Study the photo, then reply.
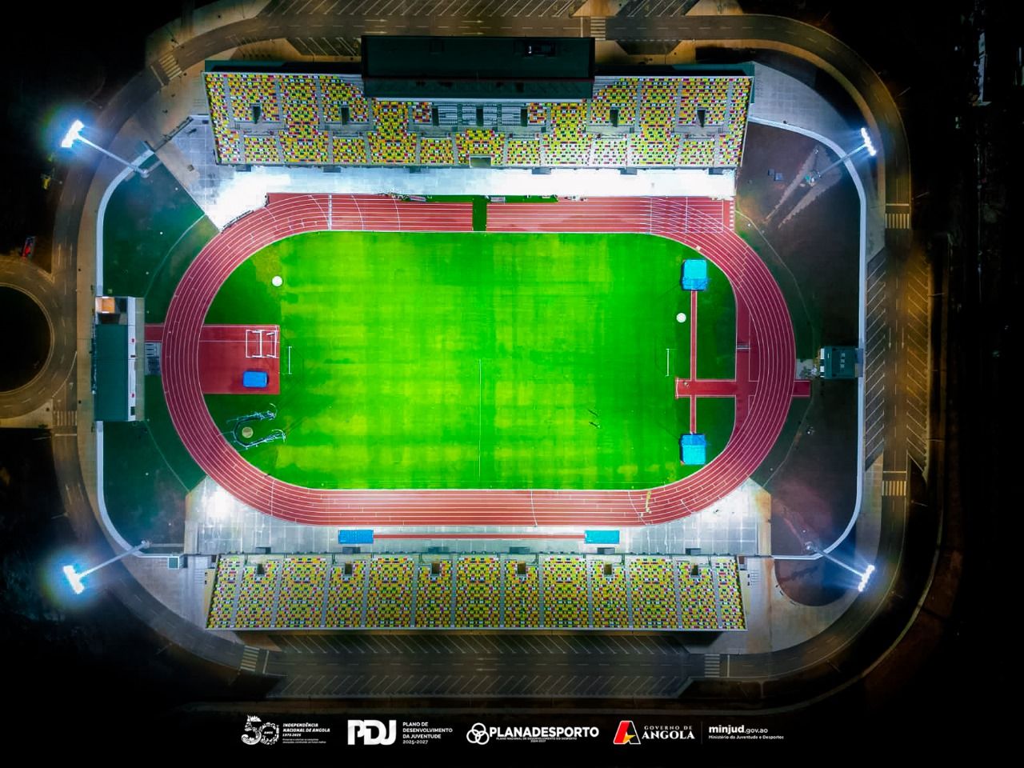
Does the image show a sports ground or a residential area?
sports ground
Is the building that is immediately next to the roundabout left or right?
left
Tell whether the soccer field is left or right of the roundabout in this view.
to its right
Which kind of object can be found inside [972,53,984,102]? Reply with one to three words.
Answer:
shed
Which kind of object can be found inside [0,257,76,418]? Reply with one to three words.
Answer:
roundabout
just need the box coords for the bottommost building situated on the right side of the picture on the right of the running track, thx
[818,346,859,379]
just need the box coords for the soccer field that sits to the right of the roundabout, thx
[204,231,736,489]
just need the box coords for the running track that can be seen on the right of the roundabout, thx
[162,194,795,526]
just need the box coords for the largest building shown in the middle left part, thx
[93,298,144,421]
